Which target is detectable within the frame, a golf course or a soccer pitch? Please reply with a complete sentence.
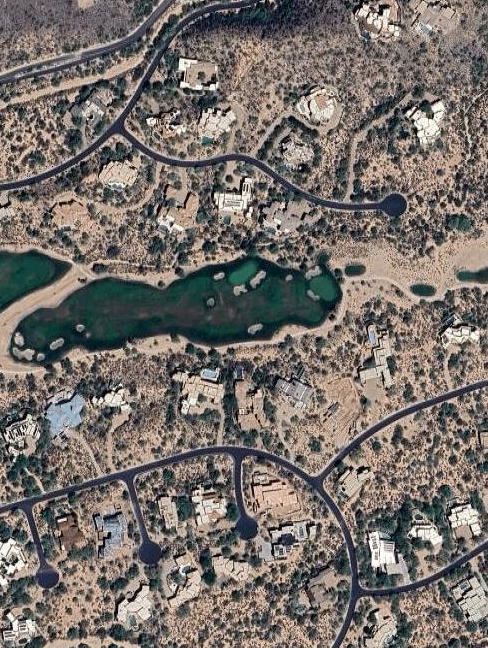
It is a golf course that can be seen here.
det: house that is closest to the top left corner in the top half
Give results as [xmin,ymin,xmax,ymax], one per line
[74,90,114,123]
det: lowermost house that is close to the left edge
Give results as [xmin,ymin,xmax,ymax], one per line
[1,606,37,644]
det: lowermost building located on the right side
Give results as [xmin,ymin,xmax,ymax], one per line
[364,605,397,648]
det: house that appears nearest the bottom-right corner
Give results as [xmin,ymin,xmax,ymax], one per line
[450,574,488,624]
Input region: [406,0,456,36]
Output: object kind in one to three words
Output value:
house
